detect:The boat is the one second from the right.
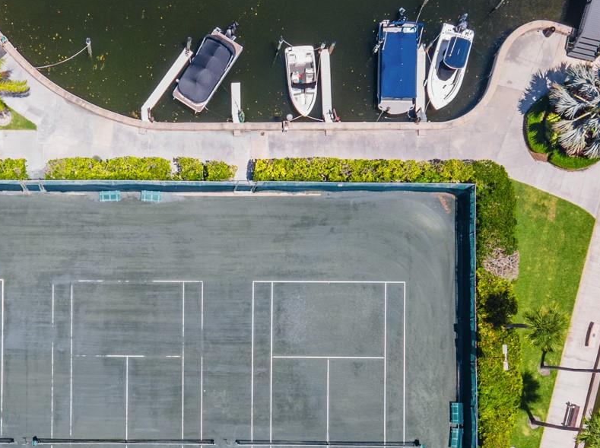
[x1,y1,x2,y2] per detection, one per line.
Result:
[378,5,425,115]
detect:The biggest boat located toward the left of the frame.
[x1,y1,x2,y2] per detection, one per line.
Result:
[171,25,244,114]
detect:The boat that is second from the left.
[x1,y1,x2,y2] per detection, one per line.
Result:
[288,42,320,114]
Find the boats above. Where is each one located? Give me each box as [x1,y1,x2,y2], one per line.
[288,42,320,114]
[171,25,244,114]
[430,13,478,108]
[378,5,425,115]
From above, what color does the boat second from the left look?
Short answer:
white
